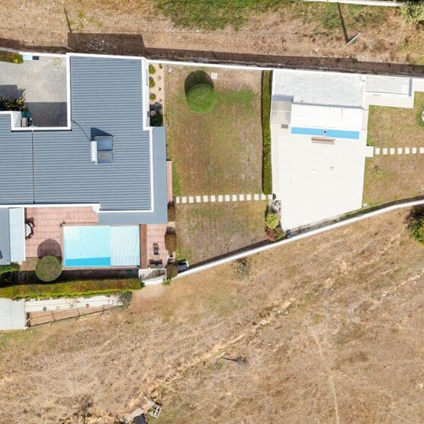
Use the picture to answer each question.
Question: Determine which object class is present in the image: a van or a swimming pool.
swimming pool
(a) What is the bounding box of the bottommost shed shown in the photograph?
[0,297,31,330]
